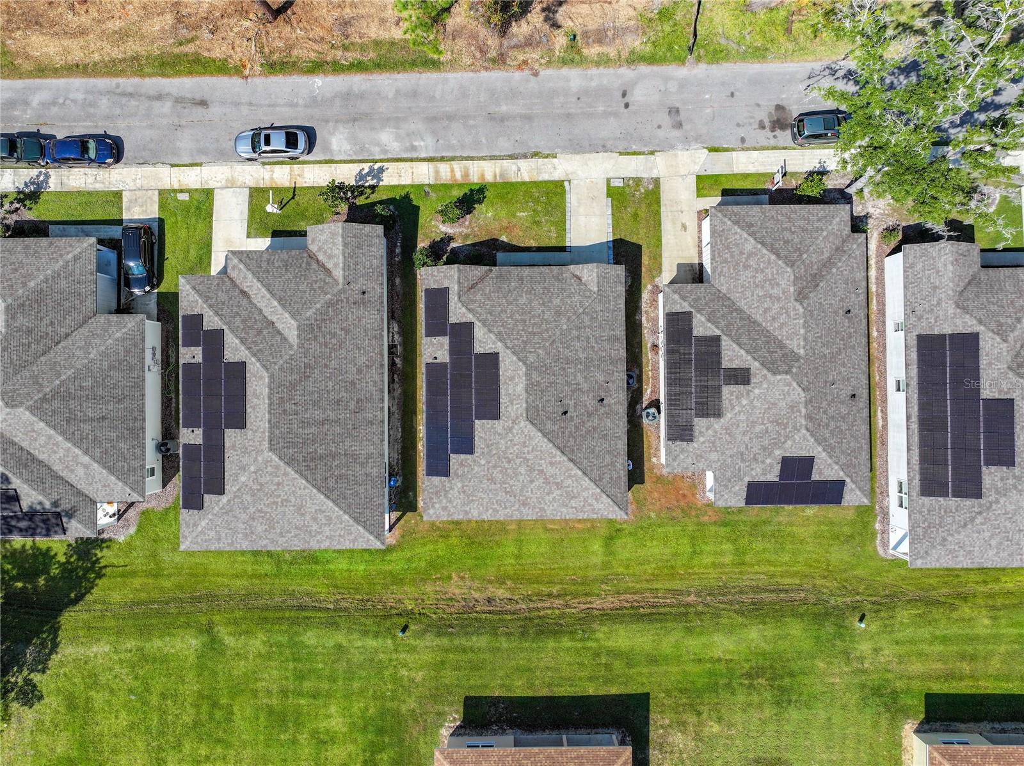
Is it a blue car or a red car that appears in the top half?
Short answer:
blue car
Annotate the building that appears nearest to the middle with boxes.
[420,263,629,521]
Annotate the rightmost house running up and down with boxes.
[888,243,1024,570]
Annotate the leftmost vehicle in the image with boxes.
[0,132,46,167]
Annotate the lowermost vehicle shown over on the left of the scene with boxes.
[118,222,159,295]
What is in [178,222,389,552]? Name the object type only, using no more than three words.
house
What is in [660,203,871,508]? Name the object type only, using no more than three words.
house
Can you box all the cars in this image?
[0,132,46,167]
[118,222,159,295]
[235,126,311,162]
[43,135,120,169]
[787,116,854,152]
